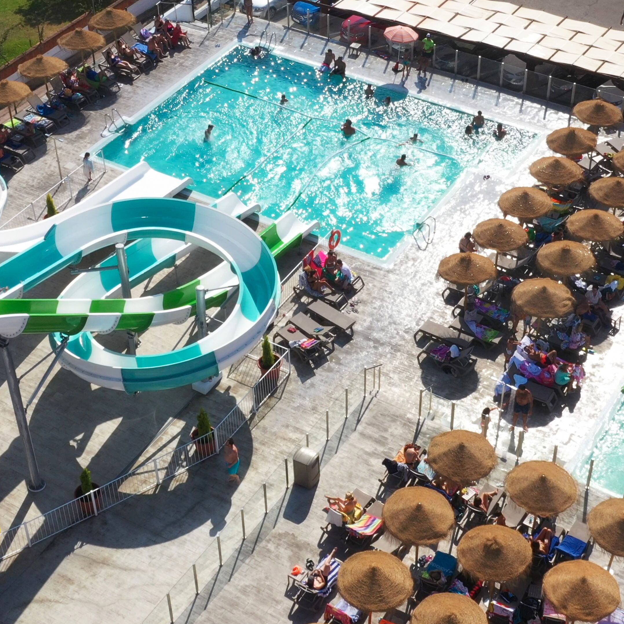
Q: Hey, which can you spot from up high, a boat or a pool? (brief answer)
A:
pool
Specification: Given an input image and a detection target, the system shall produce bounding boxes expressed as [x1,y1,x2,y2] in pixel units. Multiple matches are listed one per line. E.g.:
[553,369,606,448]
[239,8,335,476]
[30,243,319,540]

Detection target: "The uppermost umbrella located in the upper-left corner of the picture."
[86,8,134,53]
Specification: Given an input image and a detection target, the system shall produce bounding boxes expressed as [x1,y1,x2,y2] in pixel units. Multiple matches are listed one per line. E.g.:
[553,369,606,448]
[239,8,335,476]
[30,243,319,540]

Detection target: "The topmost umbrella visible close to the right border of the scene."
[568,101,624,138]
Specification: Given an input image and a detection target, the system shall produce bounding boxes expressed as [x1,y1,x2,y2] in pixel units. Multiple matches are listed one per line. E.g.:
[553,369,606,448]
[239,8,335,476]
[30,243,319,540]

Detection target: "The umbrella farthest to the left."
[0,77,35,133]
